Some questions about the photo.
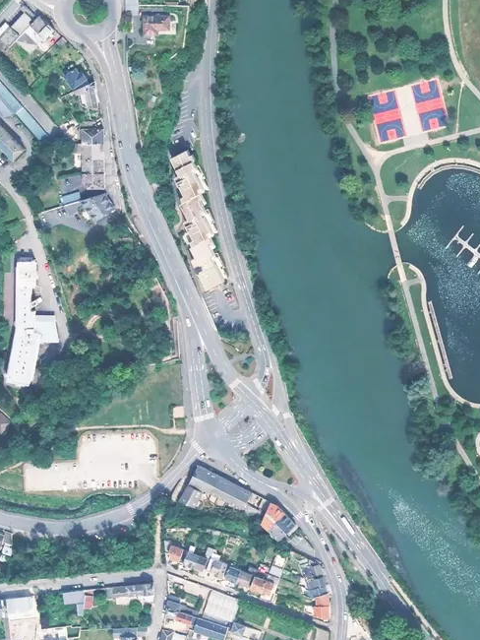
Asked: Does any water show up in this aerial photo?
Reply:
Yes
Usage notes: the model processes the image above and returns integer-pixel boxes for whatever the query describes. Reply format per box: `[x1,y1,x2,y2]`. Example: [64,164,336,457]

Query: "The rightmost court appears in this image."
[411,78,448,133]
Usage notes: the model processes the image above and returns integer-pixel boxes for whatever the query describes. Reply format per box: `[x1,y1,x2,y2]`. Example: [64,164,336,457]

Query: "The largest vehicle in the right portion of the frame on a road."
[340,514,355,535]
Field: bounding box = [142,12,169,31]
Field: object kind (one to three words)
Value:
house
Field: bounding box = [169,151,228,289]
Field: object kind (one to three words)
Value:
building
